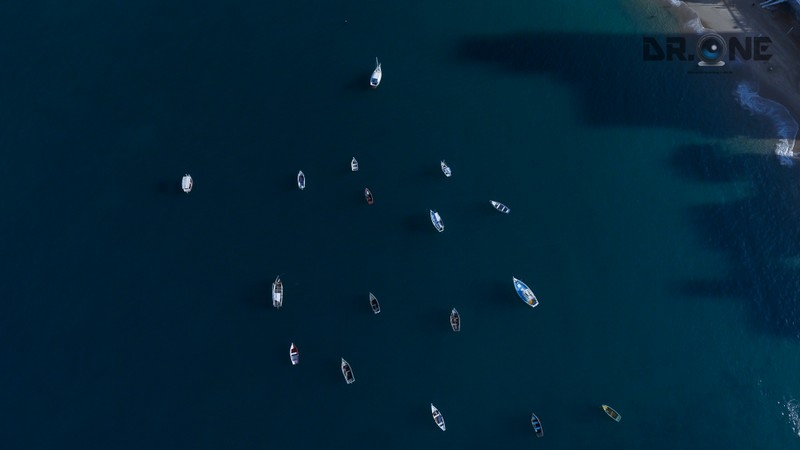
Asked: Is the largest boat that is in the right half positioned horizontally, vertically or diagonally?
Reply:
diagonally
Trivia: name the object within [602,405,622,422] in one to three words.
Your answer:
boat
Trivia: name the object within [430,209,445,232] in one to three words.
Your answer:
boat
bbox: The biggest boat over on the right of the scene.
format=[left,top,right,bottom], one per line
[513,277,539,308]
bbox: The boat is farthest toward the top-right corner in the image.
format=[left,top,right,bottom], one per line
[489,199,510,213]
